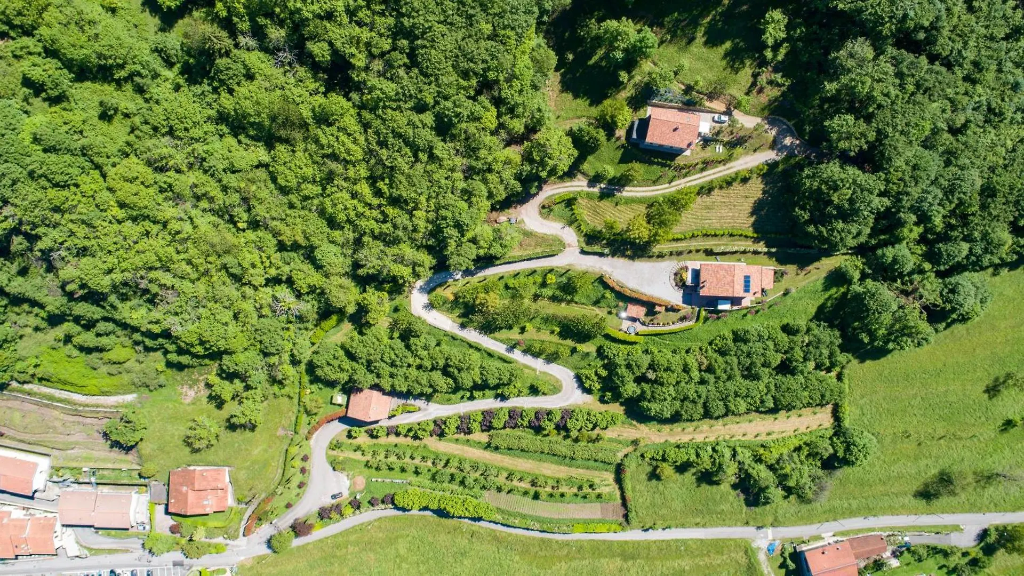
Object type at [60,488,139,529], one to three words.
house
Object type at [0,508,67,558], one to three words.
house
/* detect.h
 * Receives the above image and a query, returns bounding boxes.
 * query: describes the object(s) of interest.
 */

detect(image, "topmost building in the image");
[644,107,700,152]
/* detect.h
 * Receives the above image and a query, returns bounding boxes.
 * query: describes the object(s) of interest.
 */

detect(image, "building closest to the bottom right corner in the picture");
[799,533,887,576]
